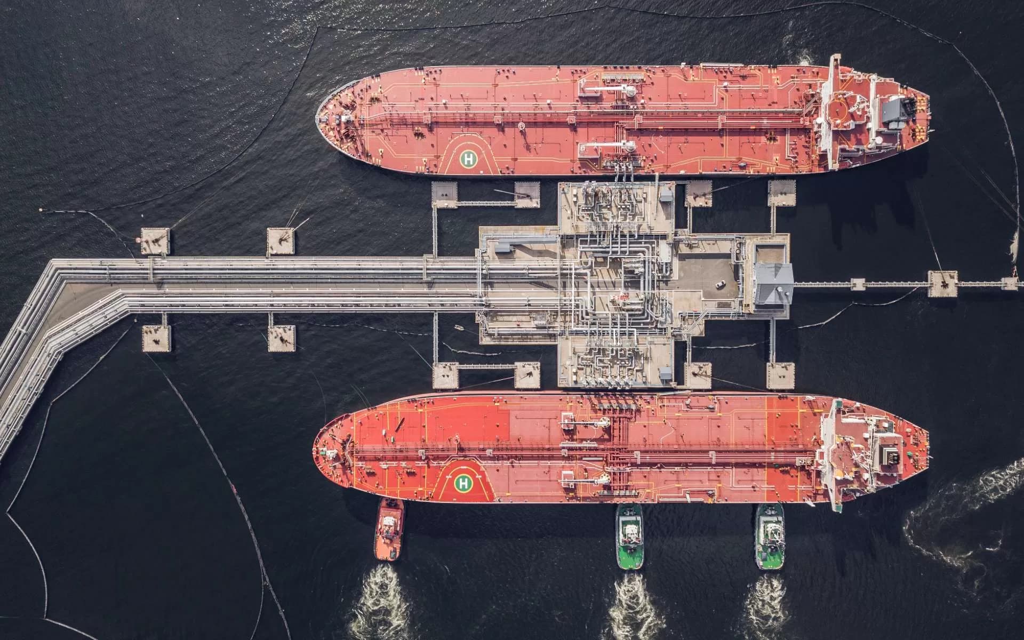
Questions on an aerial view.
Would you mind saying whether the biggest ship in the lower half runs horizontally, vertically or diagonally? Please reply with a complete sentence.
The biggest ship in the lower half runs horizontally in the image.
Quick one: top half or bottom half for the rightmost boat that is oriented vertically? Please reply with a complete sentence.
Seen from above, the rightmost boat that is oriented vertically lies in the bottom half of the view.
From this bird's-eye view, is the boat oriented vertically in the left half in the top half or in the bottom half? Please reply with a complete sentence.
You can find the boat oriented vertically in the left half in the bottom half.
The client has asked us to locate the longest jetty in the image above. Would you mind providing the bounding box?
[475,226,790,346]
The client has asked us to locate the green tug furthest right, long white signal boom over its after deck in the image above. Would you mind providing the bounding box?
[754,503,786,571]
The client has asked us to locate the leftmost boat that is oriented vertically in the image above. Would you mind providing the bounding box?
[373,496,406,563]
